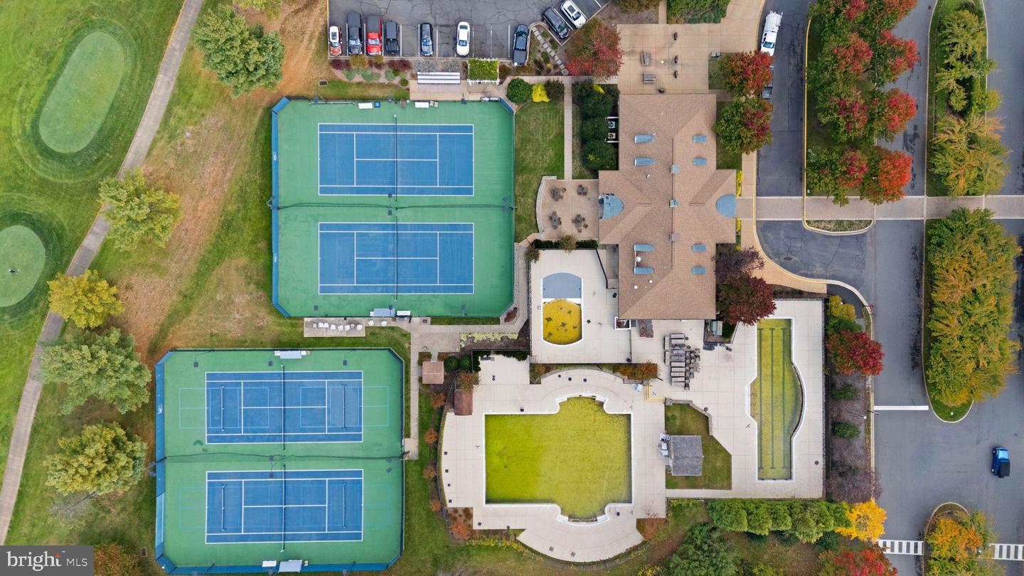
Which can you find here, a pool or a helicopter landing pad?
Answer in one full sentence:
It is a pool that can be seen here.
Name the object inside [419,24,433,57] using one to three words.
car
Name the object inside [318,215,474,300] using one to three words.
tennis court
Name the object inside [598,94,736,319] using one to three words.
building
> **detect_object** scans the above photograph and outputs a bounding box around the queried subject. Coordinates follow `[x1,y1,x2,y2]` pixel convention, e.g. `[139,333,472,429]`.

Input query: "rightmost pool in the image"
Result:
[748,316,805,482]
